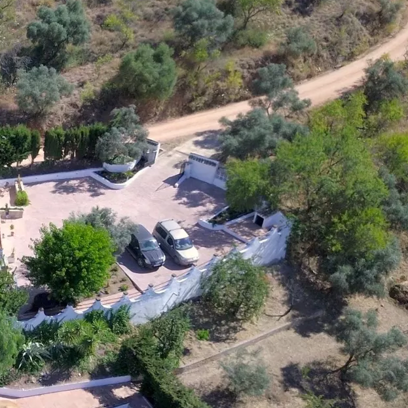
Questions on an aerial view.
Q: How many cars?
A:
two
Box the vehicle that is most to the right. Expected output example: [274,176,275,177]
[157,220,198,262]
